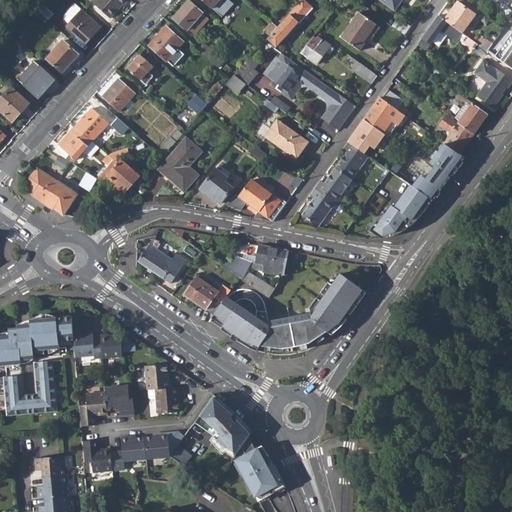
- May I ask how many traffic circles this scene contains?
2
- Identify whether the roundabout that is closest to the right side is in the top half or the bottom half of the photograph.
bottom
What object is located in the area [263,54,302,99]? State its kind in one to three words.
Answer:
house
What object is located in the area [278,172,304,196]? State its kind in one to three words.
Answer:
shed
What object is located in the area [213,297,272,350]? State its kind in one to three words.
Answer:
building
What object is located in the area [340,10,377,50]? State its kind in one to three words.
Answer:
house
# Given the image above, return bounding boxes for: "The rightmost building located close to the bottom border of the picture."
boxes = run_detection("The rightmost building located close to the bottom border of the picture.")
[233,447,284,504]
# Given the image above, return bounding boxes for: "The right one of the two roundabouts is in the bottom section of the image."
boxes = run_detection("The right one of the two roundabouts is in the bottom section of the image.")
[264,384,328,447]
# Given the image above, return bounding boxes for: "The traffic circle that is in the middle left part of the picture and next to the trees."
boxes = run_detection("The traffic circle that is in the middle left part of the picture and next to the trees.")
[30,230,103,284]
